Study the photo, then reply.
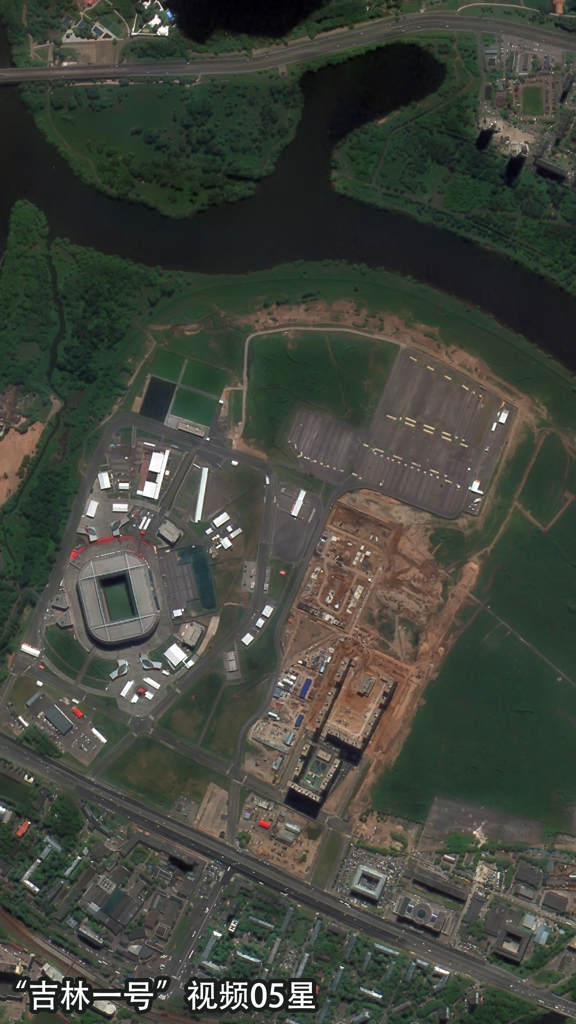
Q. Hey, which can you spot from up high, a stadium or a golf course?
stadium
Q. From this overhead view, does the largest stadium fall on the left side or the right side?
left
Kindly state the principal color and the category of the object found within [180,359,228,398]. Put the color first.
green sports field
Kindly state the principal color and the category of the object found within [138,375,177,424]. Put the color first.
black sports field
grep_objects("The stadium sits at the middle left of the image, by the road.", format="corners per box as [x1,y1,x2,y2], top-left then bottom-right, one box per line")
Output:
[64,535,172,659]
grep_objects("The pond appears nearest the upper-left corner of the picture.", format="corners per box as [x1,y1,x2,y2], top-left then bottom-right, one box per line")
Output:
[164,0,333,44]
